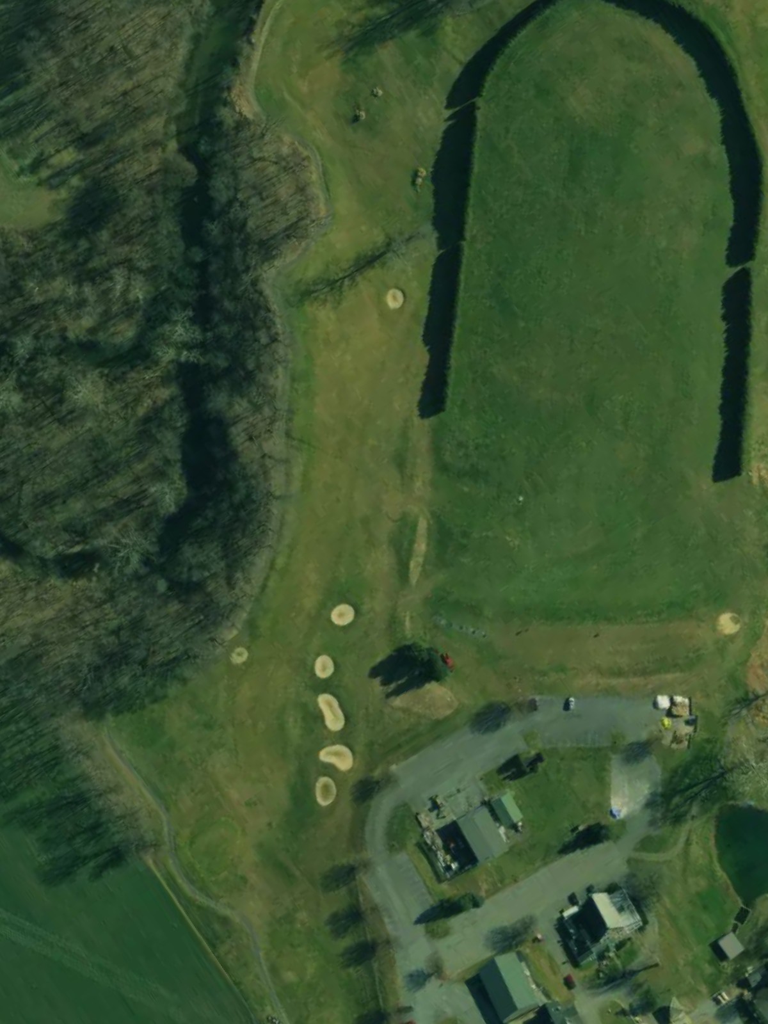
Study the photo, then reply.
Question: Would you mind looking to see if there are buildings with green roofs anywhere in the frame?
Yes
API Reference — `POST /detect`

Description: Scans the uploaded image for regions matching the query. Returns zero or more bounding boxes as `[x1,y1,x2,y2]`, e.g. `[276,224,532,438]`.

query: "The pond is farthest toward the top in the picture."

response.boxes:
[715,803,768,908]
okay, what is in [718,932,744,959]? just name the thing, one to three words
shed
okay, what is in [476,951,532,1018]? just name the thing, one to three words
barn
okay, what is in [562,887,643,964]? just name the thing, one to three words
house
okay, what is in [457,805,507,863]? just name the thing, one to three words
building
